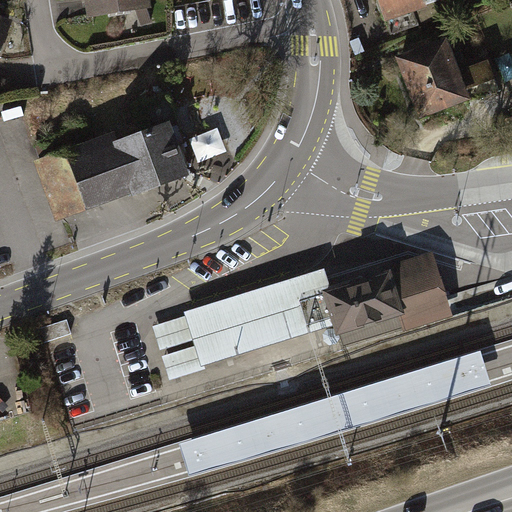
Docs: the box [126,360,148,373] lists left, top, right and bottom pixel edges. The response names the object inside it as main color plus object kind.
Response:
white vehicle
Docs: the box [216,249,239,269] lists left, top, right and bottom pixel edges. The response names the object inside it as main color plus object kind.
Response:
white car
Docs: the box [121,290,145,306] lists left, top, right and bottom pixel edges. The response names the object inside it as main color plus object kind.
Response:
black car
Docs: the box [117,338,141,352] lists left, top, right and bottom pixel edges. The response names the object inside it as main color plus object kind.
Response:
black car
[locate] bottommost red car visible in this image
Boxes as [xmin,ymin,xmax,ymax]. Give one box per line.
[67,404,90,418]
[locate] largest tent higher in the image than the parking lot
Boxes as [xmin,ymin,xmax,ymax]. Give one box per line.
[192,128,226,162]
